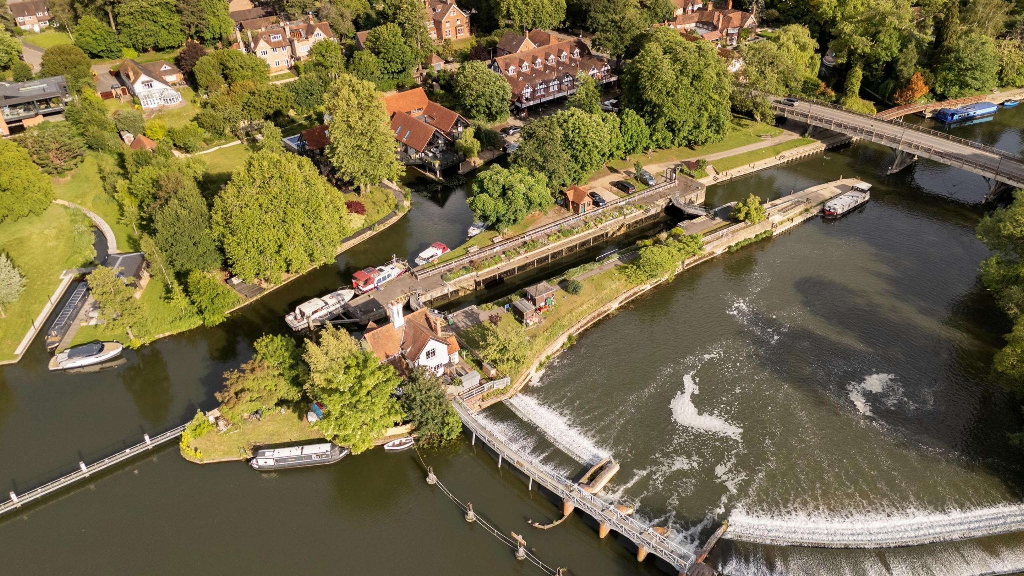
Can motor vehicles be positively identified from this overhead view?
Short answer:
Yes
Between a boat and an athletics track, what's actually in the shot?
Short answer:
boat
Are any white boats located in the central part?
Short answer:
Yes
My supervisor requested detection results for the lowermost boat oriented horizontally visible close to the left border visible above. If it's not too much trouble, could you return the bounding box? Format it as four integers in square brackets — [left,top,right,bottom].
[45,341,120,372]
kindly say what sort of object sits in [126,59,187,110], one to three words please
house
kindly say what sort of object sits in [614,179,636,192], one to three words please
vehicle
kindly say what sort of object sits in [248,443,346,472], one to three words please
boat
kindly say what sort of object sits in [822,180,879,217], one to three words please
ship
